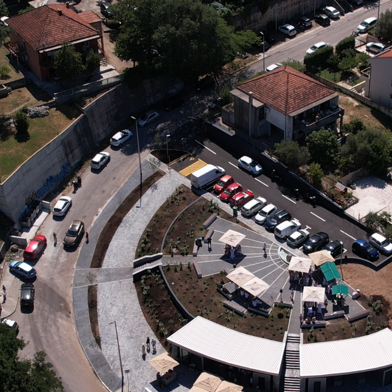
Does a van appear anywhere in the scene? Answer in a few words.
Yes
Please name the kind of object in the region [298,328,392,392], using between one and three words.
building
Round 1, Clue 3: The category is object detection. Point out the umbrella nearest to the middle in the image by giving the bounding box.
[219,230,247,252]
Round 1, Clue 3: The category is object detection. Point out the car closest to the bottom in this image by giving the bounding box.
[0,314,22,330]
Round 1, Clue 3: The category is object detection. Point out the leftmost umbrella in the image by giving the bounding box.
[149,352,179,378]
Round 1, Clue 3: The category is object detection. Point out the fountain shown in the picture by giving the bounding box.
[277,244,302,264]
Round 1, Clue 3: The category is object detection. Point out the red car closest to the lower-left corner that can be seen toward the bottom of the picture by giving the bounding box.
[23,236,47,260]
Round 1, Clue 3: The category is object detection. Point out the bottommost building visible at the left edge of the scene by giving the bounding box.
[4,1,101,81]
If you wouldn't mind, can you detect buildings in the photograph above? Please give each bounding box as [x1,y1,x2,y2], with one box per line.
[4,1,101,81]
[166,316,285,392]
[298,328,392,392]
[230,64,330,135]
[368,45,392,107]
